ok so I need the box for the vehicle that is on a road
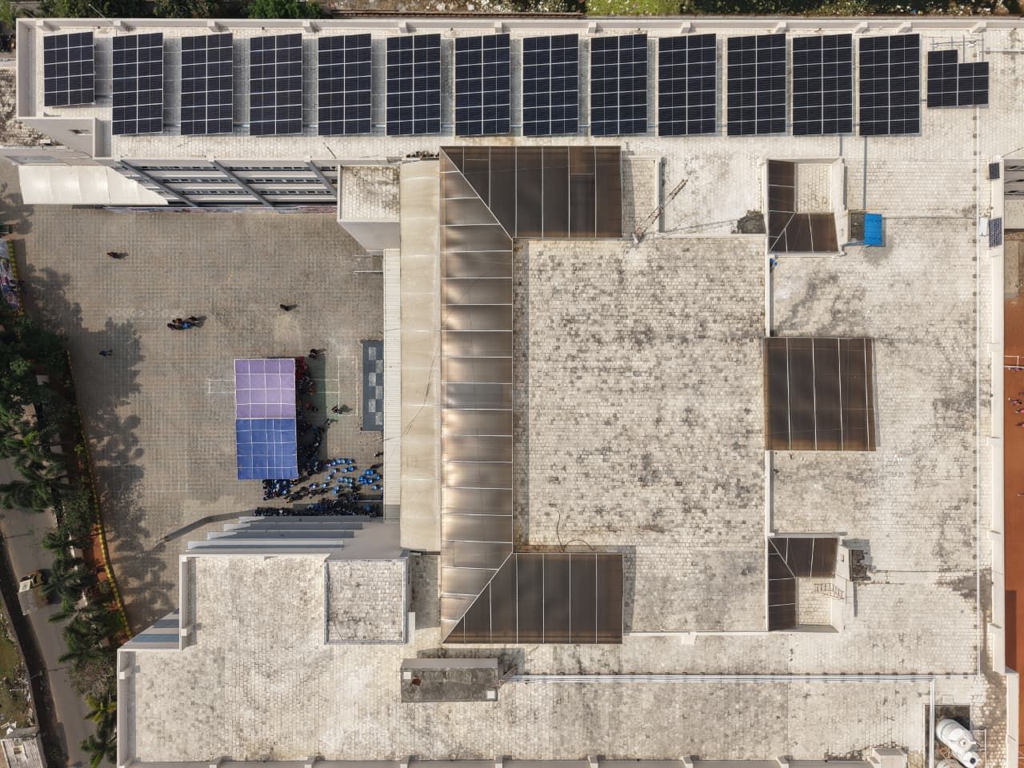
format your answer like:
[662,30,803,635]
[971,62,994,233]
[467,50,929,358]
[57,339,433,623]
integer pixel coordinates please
[24,575,53,619]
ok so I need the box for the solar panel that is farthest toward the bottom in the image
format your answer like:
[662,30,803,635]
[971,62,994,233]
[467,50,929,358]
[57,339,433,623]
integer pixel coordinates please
[984,217,1002,247]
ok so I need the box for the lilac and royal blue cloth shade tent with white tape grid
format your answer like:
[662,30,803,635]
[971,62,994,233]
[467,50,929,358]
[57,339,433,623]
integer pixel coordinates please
[235,359,306,479]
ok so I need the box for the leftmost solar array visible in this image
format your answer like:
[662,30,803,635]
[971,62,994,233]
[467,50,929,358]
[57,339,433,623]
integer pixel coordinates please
[45,32,103,111]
